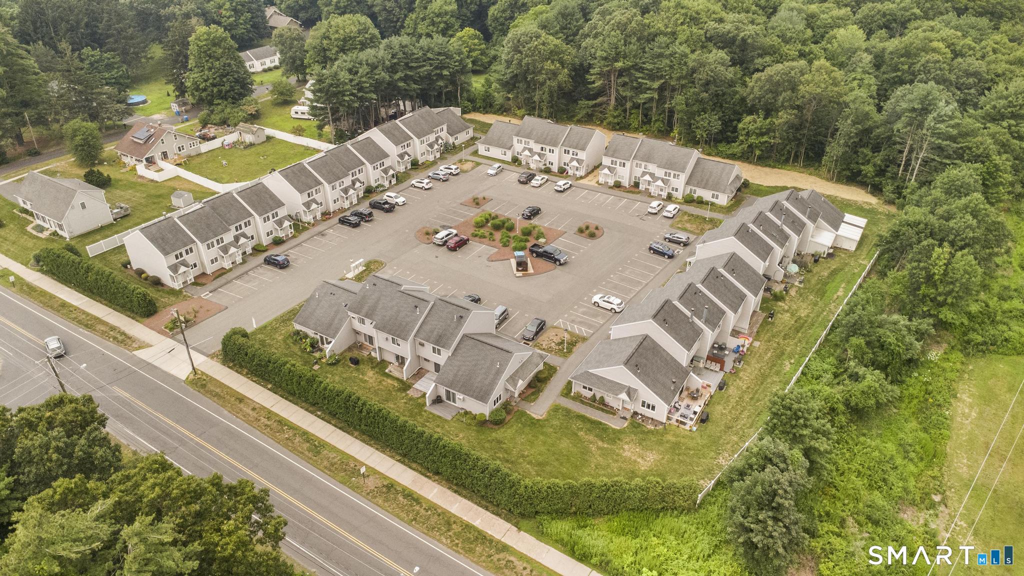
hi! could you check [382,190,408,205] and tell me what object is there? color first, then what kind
white car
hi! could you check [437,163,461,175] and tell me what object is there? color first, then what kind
white vehicle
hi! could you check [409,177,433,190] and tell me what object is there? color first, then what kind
white vehicle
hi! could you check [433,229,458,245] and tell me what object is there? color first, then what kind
white car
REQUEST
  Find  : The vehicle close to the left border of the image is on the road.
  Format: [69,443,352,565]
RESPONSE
[40,335,64,357]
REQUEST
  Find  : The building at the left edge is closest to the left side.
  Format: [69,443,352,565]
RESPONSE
[11,173,118,239]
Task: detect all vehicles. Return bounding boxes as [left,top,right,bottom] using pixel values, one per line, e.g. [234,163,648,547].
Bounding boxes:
[516,170,537,183]
[348,207,375,222]
[437,163,461,175]
[336,213,362,228]
[646,240,677,258]
[646,199,665,213]
[40,335,64,357]
[531,245,568,264]
[661,203,680,218]
[382,190,408,205]
[409,177,433,190]
[520,205,543,219]
[426,169,450,182]
[261,252,290,268]
[460,291,482,303]
[445,234,470,250]
[591,294,625,311]
[485,163,505,175]
[519,316,548,340]
[368,197,397,213]
[529,175,550,186]
[494,303,510,320]
[433,229,458,245]
[553,179,573,192]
